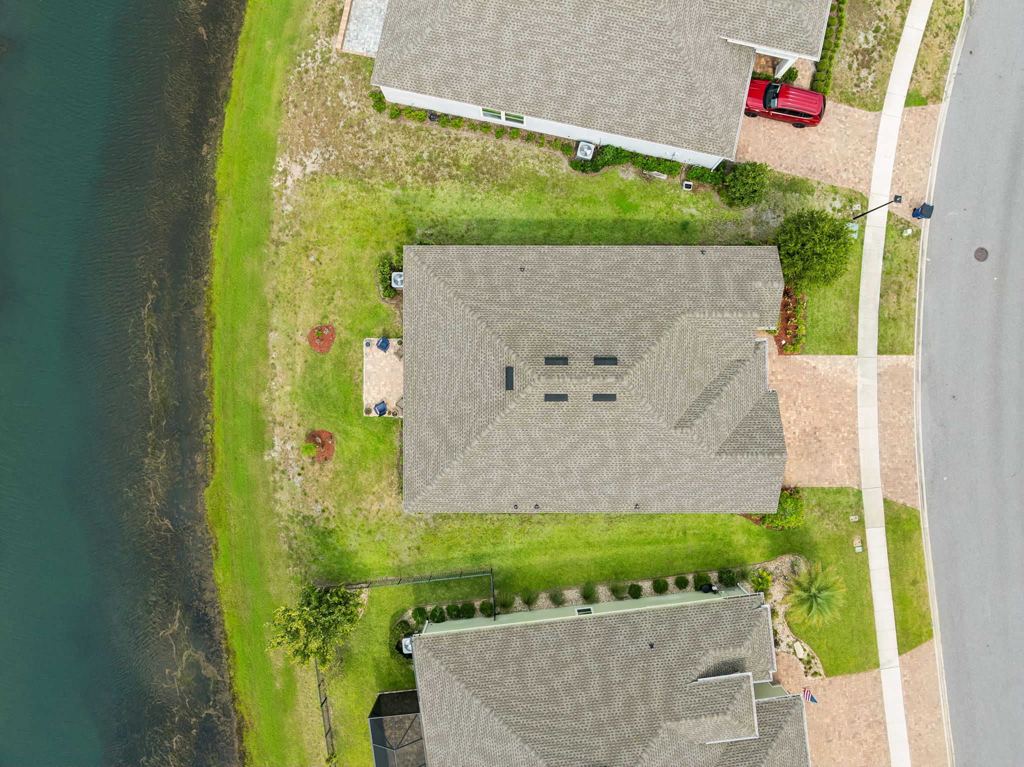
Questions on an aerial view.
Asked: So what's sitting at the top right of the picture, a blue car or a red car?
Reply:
red car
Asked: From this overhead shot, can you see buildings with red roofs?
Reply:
No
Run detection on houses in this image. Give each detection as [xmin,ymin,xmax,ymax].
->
[413,584,814,767]
[371,0,835,170]
[402,244,788,514]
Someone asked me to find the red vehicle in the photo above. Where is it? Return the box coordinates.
[746,77,827,129]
